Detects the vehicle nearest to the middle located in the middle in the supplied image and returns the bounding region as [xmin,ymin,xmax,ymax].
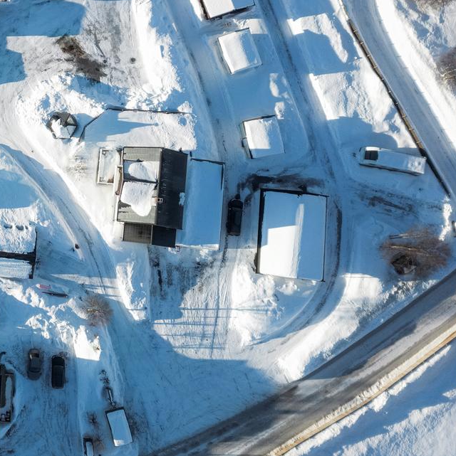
[223,197,243,235]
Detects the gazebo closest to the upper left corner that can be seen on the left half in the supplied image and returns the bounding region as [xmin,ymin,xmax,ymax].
[47,111,78,140]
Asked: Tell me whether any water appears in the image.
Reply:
No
